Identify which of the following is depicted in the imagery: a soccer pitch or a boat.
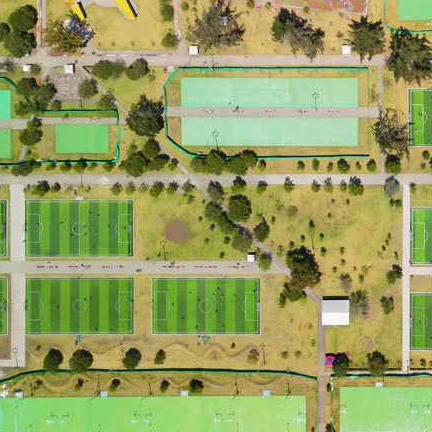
soccer pitch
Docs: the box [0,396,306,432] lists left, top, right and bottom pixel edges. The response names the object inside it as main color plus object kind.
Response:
green sports field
